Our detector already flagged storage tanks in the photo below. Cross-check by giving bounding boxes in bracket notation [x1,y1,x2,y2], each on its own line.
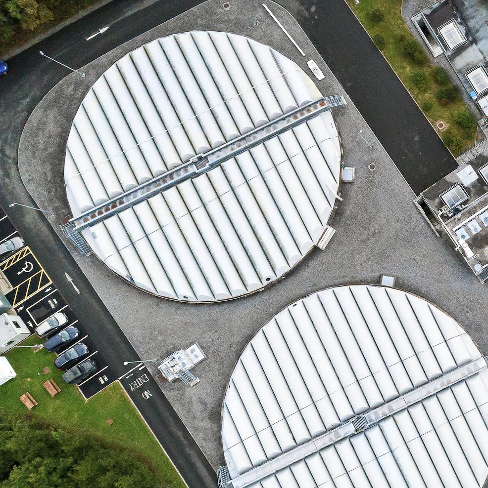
[216,275,488,488]
[59,24,357,306]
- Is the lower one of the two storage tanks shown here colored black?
No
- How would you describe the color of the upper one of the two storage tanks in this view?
white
